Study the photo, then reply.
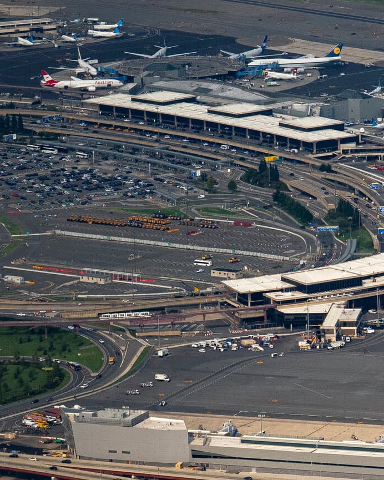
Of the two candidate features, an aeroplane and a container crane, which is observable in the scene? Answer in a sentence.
Visible in the photo is an aeroplane.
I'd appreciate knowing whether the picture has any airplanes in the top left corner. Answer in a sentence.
Yes, an airplane can be seen in the top left corner.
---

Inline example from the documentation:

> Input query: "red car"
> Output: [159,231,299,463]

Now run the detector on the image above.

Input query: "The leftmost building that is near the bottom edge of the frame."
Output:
[60,404,190,466]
